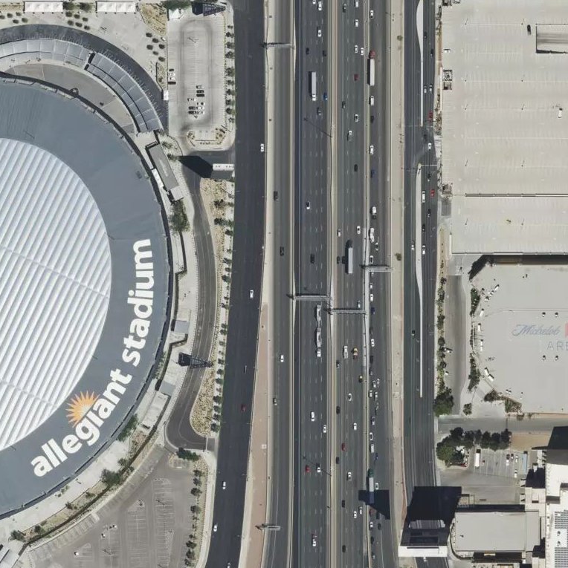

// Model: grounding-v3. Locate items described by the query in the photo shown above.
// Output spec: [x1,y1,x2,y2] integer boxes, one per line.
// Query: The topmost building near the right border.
[441,0,568,196]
